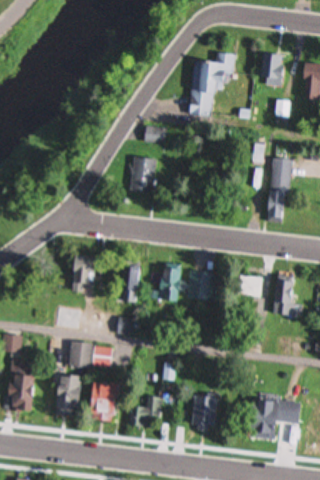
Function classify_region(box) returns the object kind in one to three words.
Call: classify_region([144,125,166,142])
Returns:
building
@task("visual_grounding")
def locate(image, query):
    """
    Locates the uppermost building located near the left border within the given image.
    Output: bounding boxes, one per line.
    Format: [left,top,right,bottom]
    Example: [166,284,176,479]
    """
[4,334,24,353]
